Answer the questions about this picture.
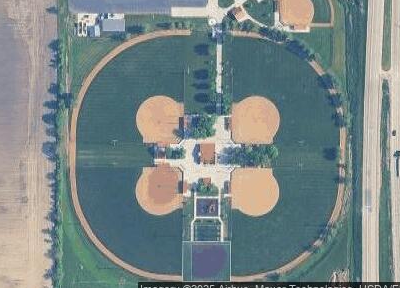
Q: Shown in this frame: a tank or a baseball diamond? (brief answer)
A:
baseball diamond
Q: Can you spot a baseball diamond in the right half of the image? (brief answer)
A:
Yes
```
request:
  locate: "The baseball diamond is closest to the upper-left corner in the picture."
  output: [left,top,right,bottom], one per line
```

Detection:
[69,29,191,155]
